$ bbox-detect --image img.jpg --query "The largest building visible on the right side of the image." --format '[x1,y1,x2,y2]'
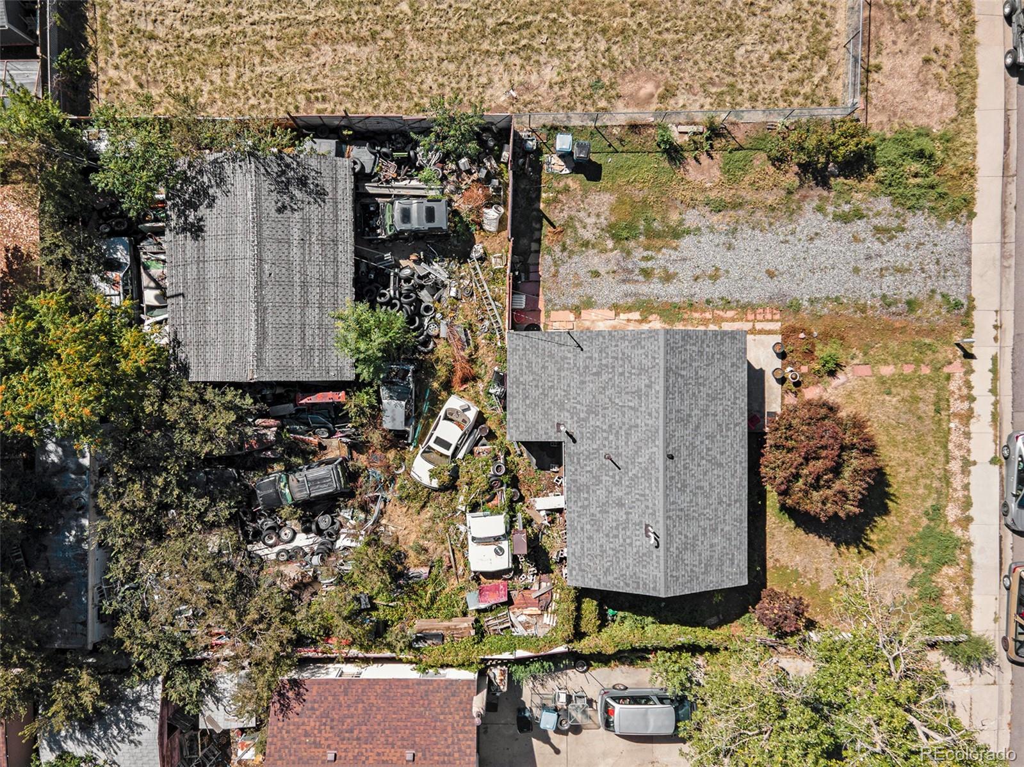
[506,328,747,593]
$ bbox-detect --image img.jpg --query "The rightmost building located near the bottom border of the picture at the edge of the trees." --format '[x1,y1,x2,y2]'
[262,660,488,767]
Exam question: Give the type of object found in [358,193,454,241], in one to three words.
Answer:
car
